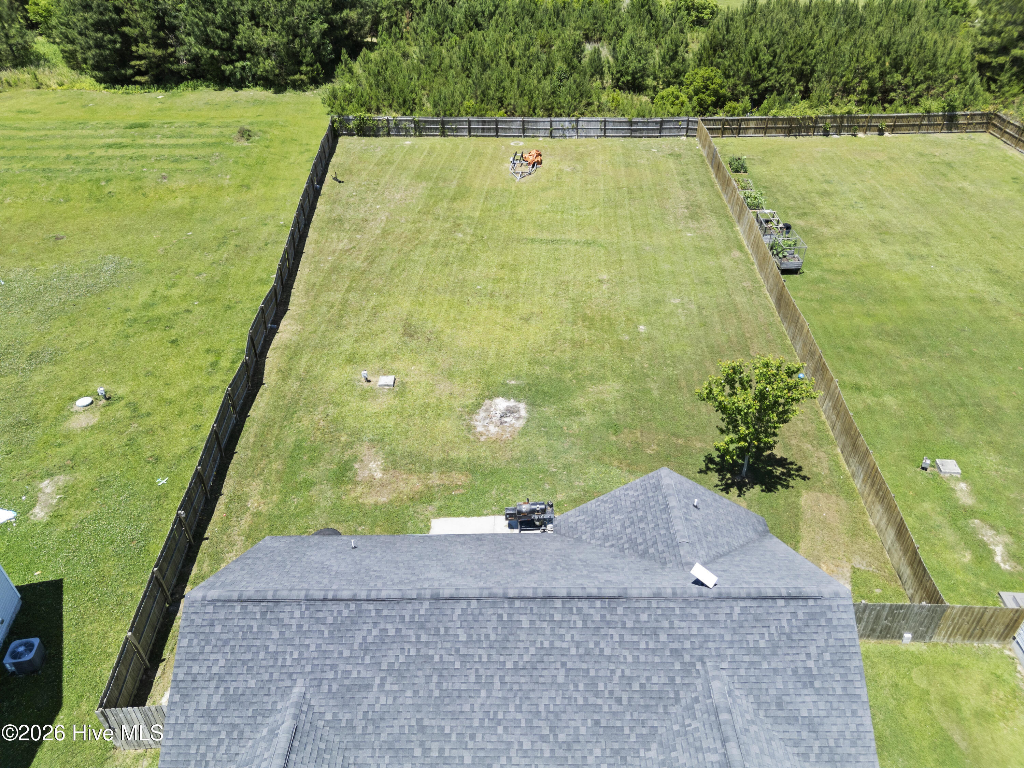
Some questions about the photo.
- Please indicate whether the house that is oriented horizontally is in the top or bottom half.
bottom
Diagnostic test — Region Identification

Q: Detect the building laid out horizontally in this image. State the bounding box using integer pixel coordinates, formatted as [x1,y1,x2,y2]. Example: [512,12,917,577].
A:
[159,466,884,768]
